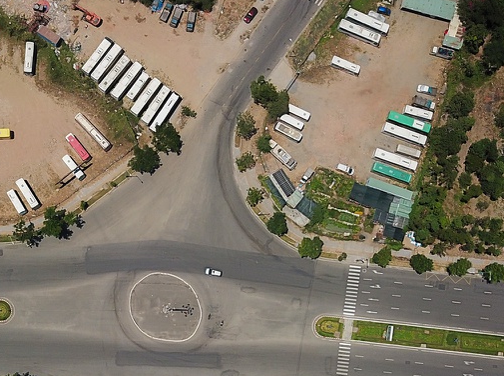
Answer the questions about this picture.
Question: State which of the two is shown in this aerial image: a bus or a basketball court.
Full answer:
The one in the frame is a bus.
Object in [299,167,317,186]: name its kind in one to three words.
vehicle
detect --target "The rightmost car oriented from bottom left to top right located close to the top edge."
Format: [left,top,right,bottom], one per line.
[244,7,259,24]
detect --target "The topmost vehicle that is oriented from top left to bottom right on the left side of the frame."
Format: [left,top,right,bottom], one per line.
[73,5,104,29]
